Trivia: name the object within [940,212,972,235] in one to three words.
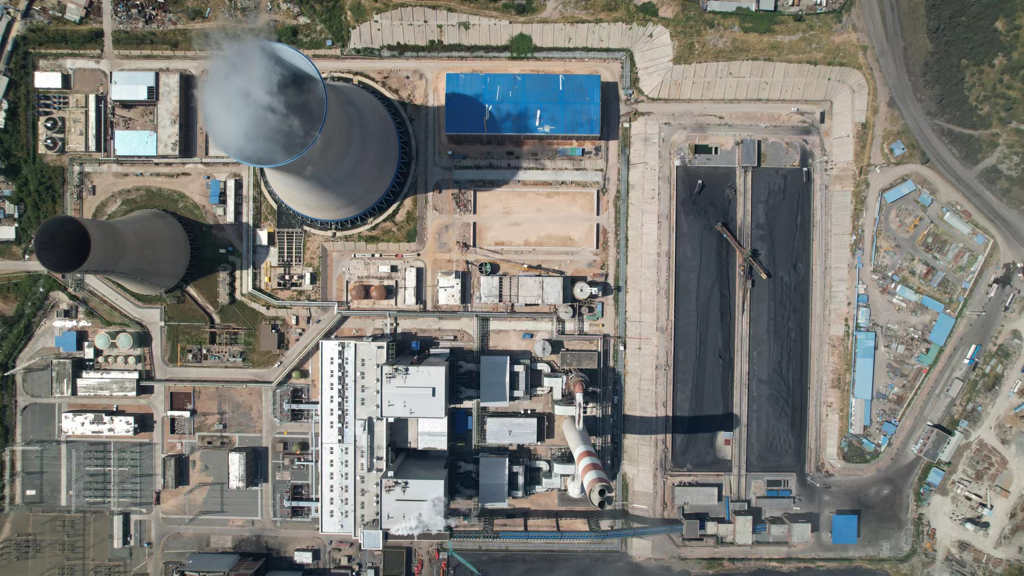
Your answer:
shed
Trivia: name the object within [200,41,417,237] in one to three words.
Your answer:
cooling tower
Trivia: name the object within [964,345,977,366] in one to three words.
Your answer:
vehicle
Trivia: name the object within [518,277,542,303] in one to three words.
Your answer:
building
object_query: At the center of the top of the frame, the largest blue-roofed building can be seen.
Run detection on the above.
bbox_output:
[445,74,601,140]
